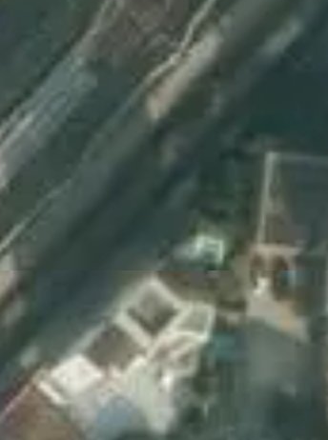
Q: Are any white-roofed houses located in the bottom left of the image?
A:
Yes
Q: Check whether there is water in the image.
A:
No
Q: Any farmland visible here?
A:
No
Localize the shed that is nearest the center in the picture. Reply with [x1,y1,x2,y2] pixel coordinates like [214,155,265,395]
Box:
[176,230,229,268]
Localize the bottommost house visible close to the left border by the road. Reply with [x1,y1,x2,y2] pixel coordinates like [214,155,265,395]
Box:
[0,384,81,440]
